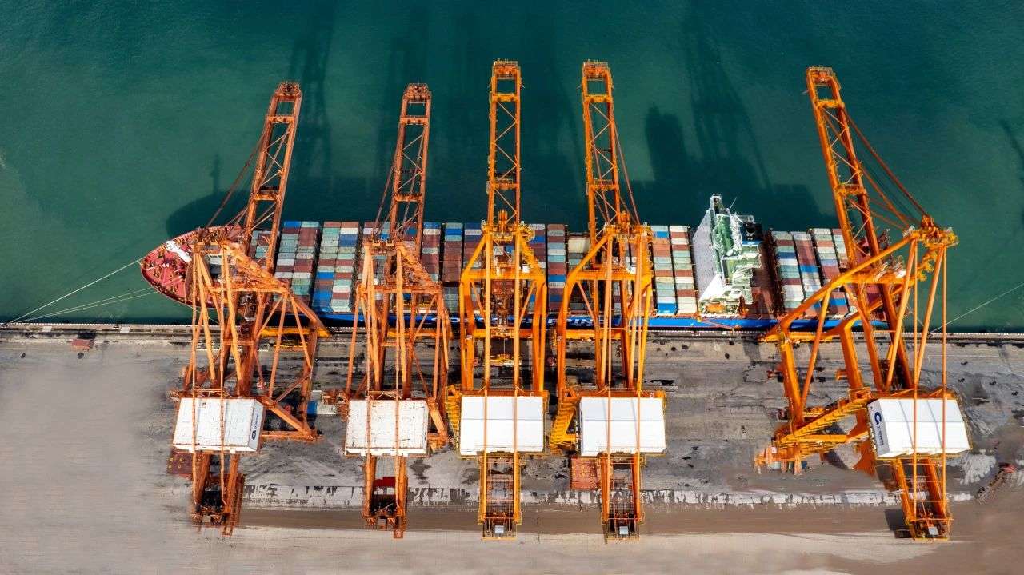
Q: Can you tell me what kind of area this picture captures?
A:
port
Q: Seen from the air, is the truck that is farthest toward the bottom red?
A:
Yes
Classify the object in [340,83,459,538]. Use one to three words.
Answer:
container crane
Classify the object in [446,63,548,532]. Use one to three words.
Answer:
container crane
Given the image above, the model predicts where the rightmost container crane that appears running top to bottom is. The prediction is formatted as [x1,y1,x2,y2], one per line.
[770,68,970,534]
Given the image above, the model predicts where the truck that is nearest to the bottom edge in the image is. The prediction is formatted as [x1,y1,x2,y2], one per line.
[981,460,1020,498]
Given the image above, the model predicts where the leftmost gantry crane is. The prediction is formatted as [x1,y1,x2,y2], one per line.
[168,81,334,537]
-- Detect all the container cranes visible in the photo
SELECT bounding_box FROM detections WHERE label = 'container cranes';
[340,83,459,538]
[770,68,970,534]
[446,63,548,532]
[168,81,334,537]
[544,64,666,532]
